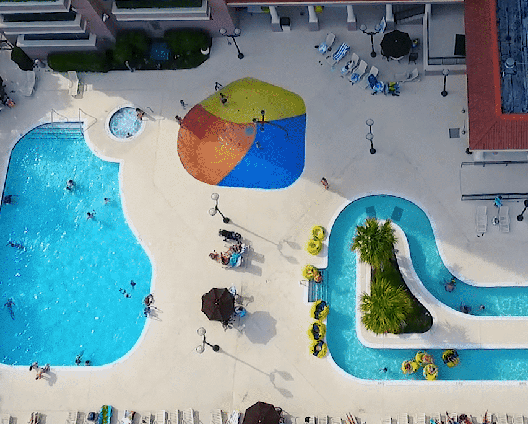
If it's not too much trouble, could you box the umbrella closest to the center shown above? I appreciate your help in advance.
[204,286,239,322]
